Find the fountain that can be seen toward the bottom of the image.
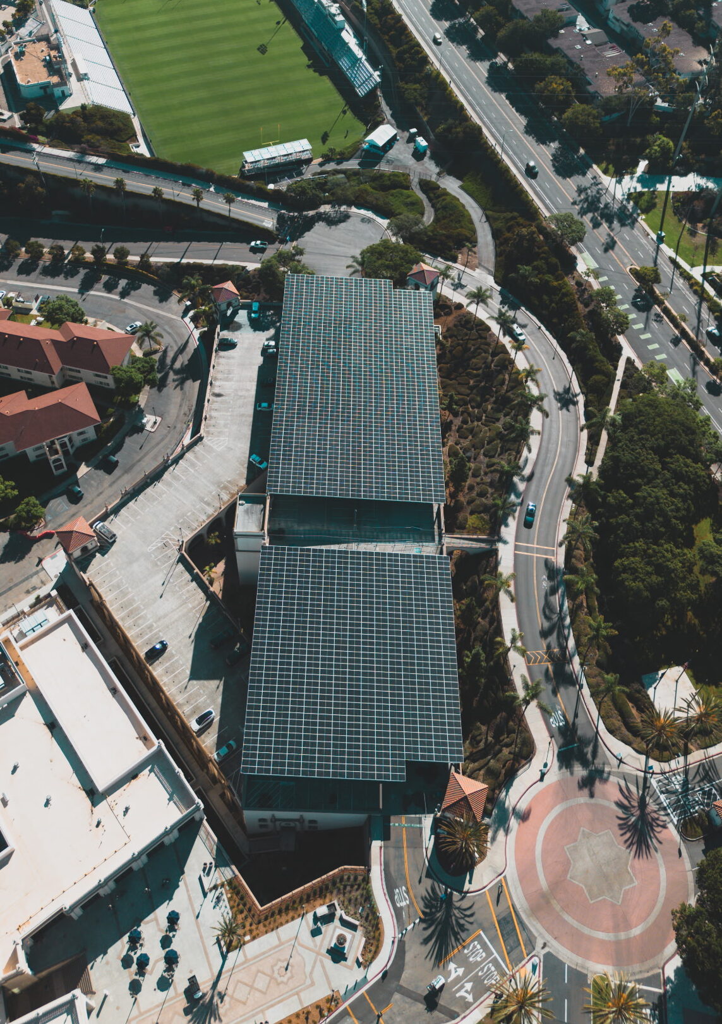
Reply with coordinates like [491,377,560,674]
[331,928,352,953]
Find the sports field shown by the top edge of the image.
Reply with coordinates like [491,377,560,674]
[97,0,365,175]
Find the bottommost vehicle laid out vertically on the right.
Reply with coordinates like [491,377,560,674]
[525,501,537,523]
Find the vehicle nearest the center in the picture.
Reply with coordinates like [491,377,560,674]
[249,452,268,468]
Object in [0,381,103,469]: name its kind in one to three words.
building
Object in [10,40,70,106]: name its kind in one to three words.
building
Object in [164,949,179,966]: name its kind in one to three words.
umbrella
